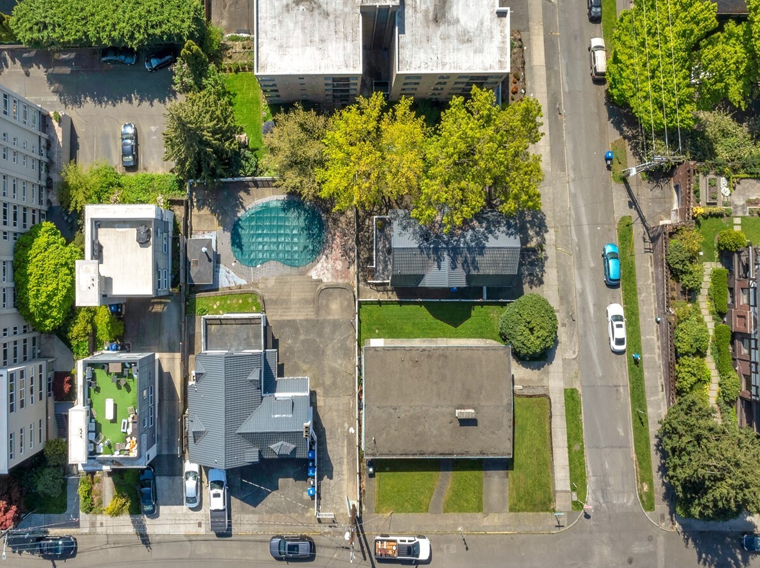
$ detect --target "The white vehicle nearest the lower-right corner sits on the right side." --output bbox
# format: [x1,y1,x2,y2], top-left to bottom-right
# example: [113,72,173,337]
[604,302,628,353]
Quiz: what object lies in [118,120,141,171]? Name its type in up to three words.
car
